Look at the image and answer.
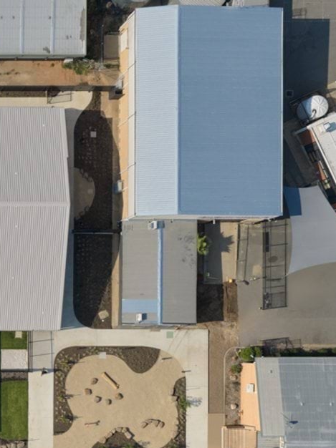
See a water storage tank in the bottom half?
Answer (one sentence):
No, I can find no water storage tank in the bottom half.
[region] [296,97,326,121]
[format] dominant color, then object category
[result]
white water tank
